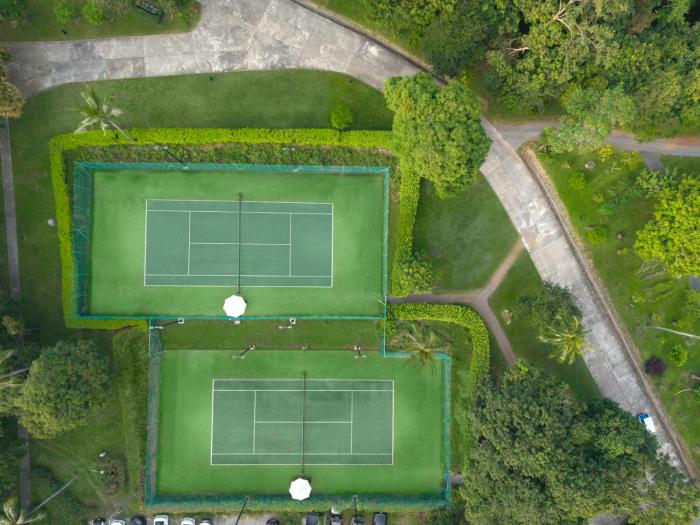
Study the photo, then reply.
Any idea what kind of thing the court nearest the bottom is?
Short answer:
tennis court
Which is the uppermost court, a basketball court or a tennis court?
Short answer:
tennis court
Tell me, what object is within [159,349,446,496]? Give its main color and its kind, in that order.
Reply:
green tennis court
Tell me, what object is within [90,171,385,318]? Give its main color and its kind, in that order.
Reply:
green tennis court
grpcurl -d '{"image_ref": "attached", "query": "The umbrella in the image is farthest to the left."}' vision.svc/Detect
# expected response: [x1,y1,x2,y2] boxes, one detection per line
[223,294,246,317]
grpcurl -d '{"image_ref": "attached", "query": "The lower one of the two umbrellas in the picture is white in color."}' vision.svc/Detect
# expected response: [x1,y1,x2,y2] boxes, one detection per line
[288,476,312,500]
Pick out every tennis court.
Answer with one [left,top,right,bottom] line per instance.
[159,349,446,496]
[90,171,385,318]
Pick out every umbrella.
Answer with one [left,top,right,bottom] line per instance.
[223,294,246,317]
[288,476,312,500]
